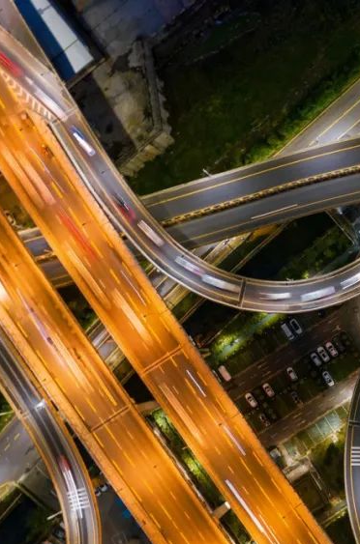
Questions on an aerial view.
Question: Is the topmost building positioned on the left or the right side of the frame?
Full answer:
The topmost building appears in the left half of the scene.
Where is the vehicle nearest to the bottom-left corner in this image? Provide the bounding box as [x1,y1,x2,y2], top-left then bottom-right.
[52,524,66,544]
